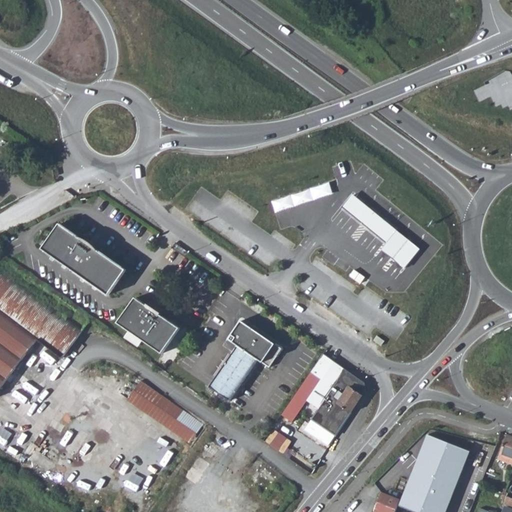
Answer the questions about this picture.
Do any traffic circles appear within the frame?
Yes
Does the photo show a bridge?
Yes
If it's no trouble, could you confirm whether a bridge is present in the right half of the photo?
Yes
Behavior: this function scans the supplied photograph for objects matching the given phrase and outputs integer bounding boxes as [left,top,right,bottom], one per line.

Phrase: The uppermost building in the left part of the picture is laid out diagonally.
[38,223,124,296]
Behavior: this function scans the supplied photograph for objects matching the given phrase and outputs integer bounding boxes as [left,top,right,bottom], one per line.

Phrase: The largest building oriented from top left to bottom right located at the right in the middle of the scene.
[342,194,420,268]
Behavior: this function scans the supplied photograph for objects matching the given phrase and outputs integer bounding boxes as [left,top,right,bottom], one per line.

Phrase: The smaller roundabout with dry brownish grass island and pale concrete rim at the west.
[60,78,166,179]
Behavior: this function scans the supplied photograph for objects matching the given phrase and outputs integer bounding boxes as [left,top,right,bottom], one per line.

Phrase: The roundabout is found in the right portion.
[463,161,512,313]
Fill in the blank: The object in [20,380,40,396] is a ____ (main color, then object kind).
white camper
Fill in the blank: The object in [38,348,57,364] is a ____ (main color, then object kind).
white camper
